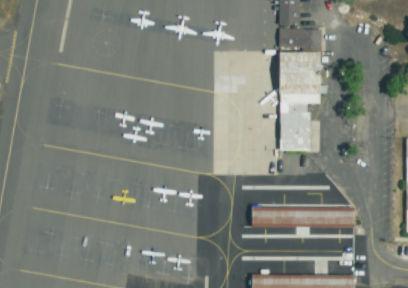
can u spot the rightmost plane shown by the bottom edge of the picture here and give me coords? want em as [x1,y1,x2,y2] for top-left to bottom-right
[166,256,192,274]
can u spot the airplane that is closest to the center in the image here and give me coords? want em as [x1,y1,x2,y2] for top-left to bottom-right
[192,128,210,144]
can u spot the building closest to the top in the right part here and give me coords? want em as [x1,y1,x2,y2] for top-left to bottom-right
[280,0,300,26]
